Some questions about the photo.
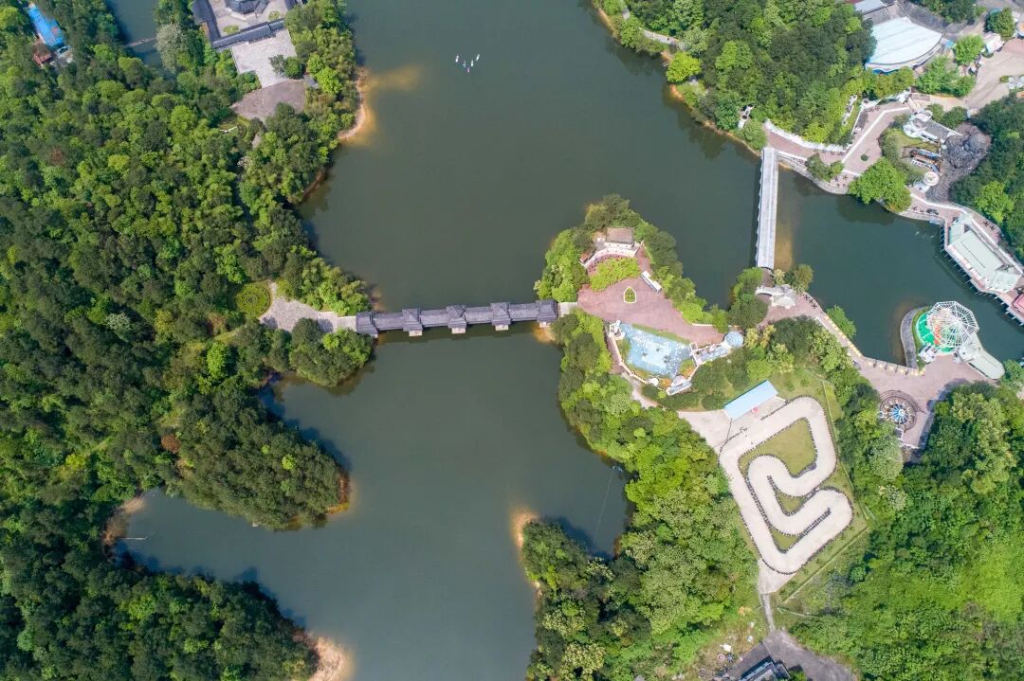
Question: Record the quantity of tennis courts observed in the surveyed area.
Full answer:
The count of tennis courts is 0.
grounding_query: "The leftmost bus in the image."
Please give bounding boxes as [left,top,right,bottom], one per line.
[640,272,661,292]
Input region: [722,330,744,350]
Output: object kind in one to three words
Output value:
building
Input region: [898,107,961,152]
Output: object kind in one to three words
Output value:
building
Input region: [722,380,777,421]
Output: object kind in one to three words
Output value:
shed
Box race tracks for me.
[713,393,853,575]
